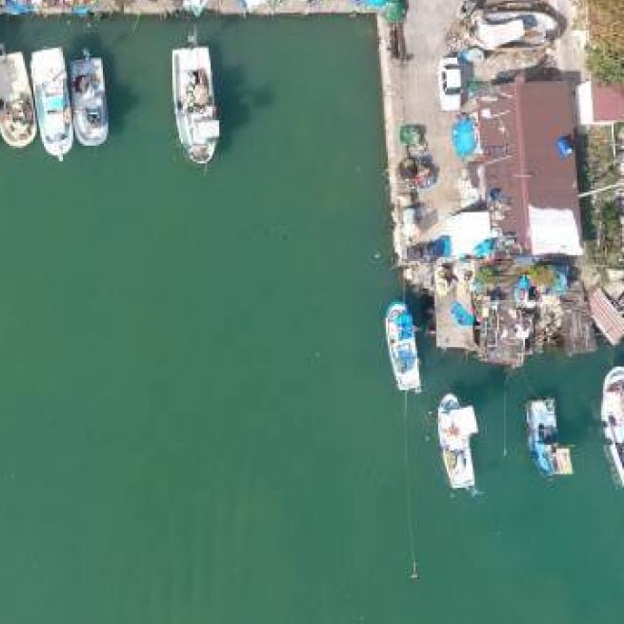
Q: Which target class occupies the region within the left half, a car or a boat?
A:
boat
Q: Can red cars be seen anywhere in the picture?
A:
No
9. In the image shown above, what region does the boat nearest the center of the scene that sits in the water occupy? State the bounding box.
[386,302,420,397]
